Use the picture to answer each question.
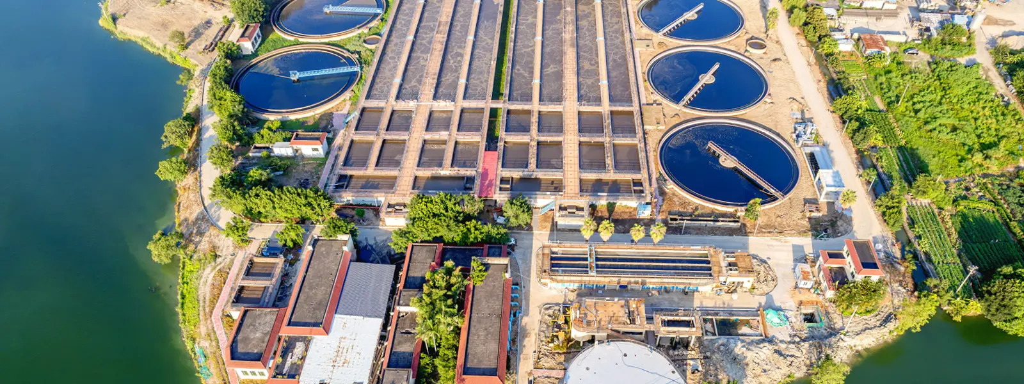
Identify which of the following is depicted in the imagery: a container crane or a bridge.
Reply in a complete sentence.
The image shows a bridge.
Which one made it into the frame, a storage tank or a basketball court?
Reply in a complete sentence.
The one in the frame is a storage tank.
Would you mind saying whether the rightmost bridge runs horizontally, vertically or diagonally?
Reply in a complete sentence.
Seen from above, the rightmost bridge lies diagonally.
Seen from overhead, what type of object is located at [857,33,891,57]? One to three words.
house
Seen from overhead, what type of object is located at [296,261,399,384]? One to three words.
shed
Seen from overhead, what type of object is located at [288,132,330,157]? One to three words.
building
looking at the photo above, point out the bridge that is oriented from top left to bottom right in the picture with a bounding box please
[700,137,787,200]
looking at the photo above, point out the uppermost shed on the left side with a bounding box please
[234,22,264,54]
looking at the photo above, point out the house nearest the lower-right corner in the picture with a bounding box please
[817,238,885,299]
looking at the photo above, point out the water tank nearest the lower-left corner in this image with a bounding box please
[222,256,292,314]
